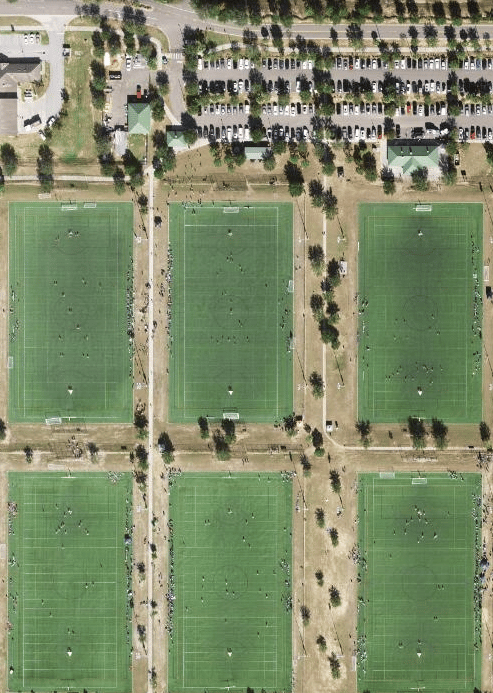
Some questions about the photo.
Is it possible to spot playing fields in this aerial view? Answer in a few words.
Yes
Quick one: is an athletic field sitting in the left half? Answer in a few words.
Yes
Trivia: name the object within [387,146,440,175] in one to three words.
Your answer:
building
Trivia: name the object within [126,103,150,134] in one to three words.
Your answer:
building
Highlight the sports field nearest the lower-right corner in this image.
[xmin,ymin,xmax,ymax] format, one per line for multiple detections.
[358,471,483,693]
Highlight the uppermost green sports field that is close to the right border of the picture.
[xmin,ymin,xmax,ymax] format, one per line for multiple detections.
[358,202,484,424]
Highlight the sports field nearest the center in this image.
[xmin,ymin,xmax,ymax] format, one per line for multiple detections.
[169,201,294,423]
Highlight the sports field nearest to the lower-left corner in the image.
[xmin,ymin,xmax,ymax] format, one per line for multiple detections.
[8,471,133,693]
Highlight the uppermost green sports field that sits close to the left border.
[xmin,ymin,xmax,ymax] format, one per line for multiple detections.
[8,201,133,423]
